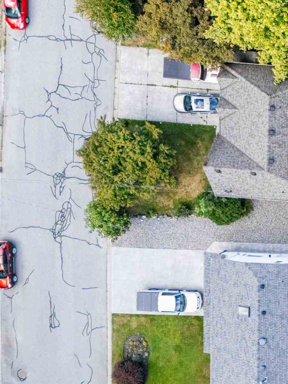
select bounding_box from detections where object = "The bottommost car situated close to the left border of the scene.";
[0,239,21,290]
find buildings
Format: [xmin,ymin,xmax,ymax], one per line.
[203,61,288,201]
[204,250,288,384]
